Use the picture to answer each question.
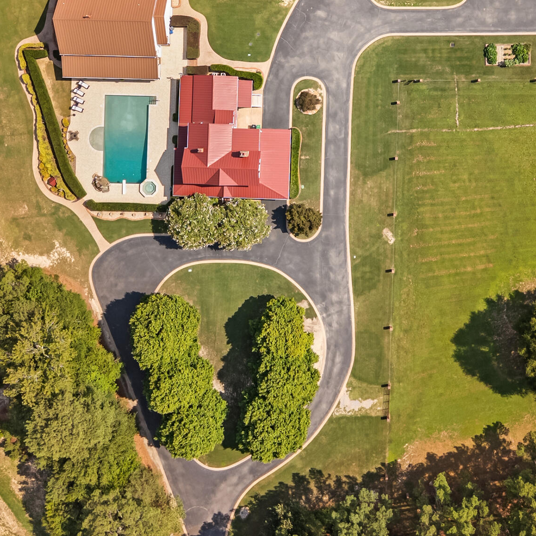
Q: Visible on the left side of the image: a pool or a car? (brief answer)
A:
pool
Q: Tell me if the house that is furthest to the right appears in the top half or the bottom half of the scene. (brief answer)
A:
top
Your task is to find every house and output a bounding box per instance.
[53,0,174,80]
[173,75,291,200]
